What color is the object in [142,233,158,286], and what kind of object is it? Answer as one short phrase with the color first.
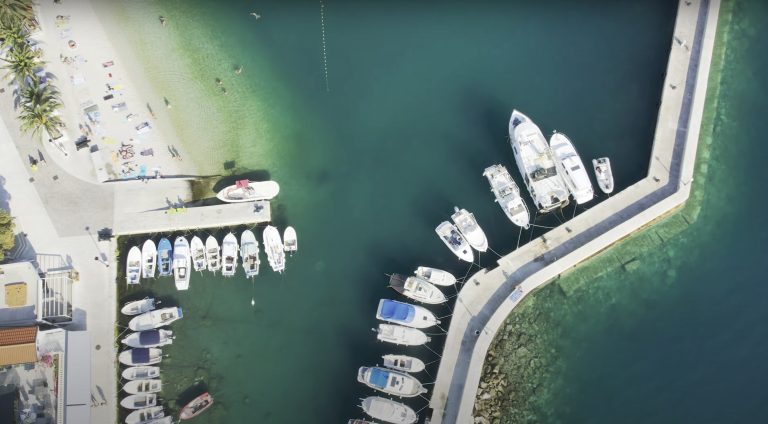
white boat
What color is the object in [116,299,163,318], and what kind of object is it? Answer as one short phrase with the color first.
white boat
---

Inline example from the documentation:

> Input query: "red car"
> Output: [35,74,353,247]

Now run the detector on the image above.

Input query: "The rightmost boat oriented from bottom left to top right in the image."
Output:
[179,392,218,423]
